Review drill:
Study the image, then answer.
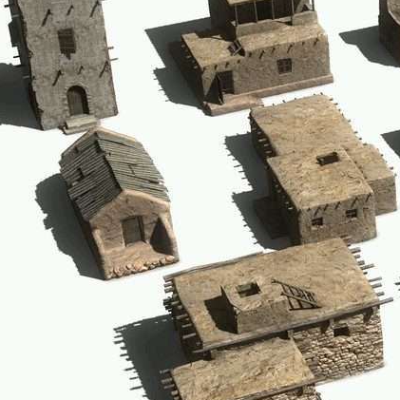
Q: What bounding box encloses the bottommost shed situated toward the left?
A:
[60,126,183,279]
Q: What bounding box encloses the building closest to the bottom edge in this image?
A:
[157,237,397,400]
